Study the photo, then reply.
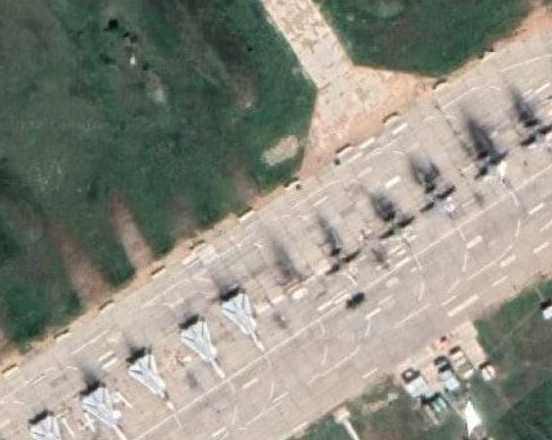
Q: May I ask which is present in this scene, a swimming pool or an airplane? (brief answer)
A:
airplane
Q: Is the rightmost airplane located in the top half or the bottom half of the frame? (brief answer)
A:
top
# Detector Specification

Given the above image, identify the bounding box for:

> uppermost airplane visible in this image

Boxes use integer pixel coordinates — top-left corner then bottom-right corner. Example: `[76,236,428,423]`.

[520,122,552,160]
